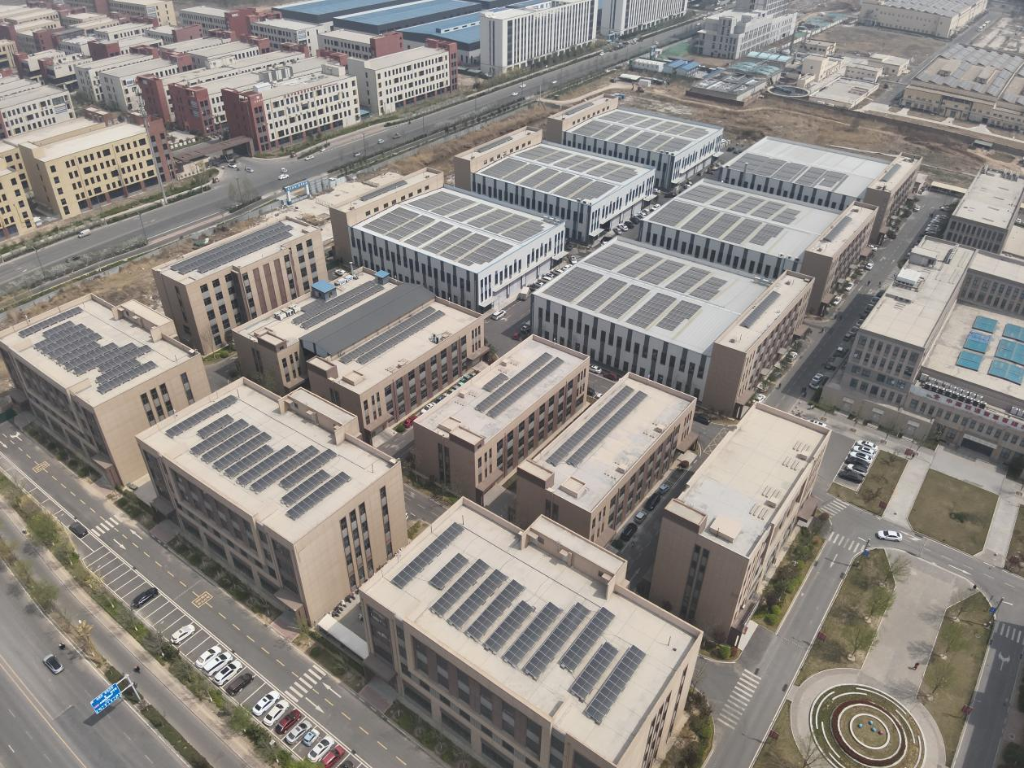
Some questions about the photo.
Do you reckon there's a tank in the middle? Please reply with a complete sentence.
No, there's no tank to be seen in the middle.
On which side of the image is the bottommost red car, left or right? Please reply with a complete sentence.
The bottommost red car sits on the left side.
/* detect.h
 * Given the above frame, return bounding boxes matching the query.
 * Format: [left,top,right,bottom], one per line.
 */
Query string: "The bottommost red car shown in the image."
[317,742,347,768]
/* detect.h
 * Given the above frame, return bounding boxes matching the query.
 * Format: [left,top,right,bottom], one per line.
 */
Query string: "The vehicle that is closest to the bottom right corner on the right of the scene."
[877,528,903,544]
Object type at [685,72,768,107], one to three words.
storage tank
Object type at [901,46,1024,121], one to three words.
building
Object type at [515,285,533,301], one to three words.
vehicle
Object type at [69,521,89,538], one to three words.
car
